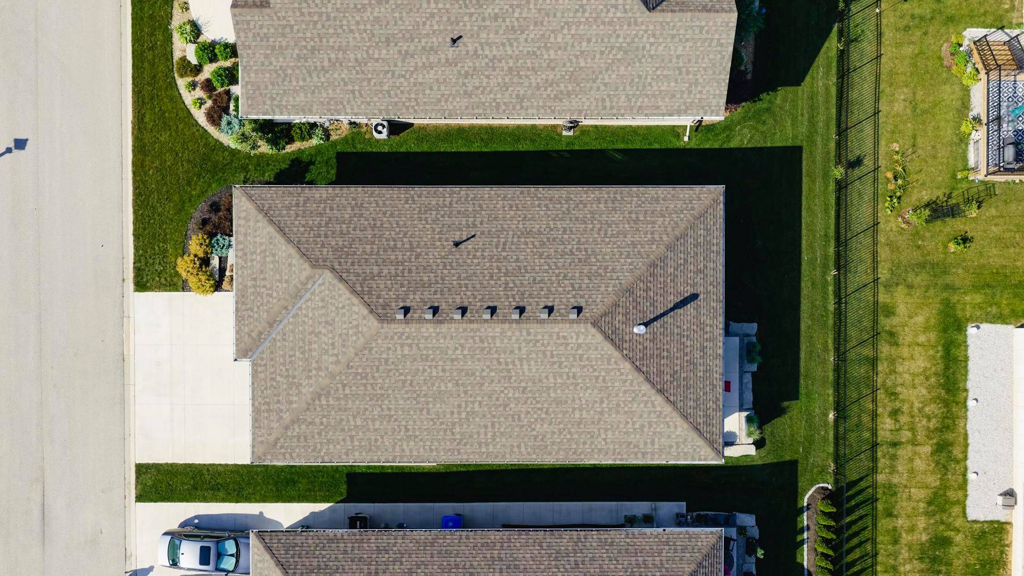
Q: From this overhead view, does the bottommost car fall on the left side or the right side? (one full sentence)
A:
The bottommost car is on the left side of the image.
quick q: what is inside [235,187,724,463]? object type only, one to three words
house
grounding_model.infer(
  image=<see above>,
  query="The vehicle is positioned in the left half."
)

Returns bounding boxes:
[156,527,251,576]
